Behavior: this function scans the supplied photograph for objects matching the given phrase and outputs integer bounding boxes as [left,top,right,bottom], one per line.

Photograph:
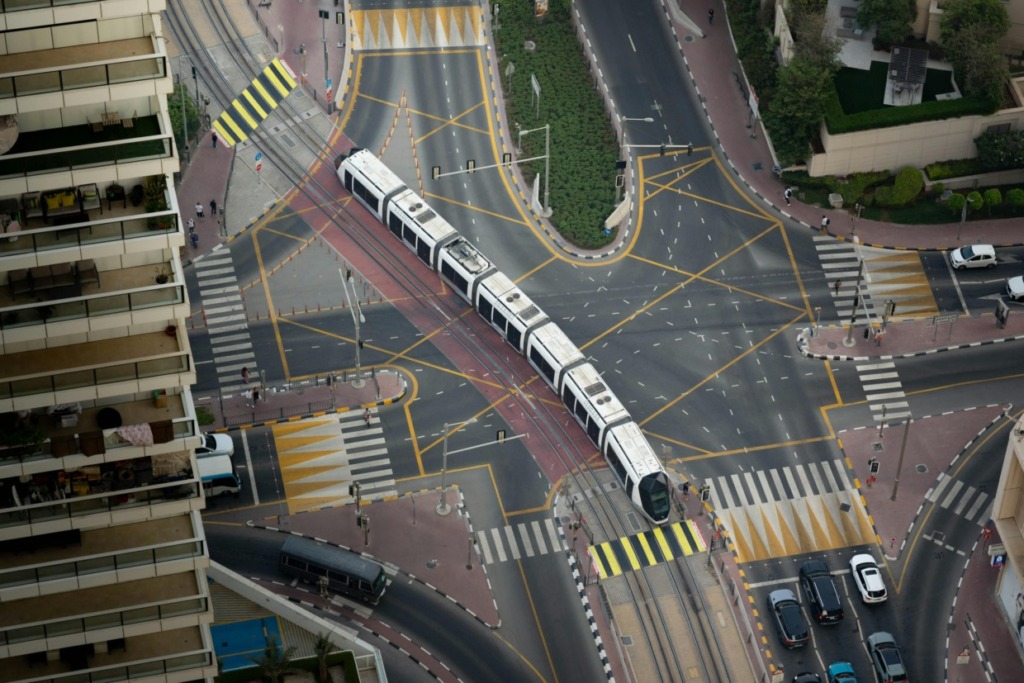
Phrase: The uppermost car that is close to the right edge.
[949,243,999,271]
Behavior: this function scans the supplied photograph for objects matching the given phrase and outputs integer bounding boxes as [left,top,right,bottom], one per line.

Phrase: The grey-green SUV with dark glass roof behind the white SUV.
[868,634,909,683]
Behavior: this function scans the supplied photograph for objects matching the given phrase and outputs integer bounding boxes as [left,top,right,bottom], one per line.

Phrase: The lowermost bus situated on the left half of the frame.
[278,534,387,606]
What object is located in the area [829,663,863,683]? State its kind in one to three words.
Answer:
car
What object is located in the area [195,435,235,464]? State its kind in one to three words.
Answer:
car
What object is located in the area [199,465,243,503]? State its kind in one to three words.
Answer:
vehicle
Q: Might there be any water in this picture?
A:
No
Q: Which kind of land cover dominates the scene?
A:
paved ground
